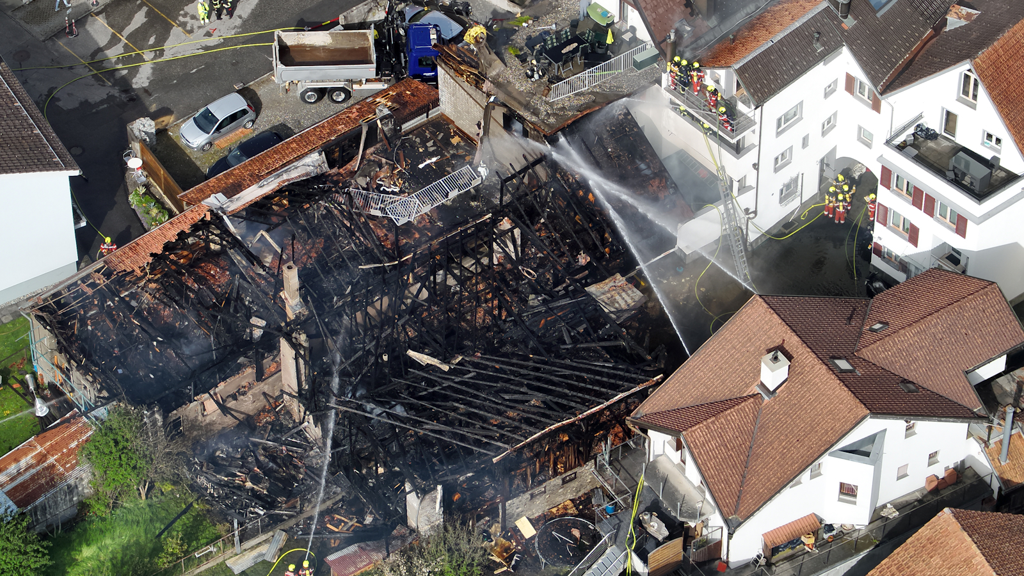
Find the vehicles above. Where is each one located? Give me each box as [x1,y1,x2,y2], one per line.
[413,12,468,49]
[866,266,894,292]
[208,123,287,176]
[176,89,259,154]
[270,0,456,103]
